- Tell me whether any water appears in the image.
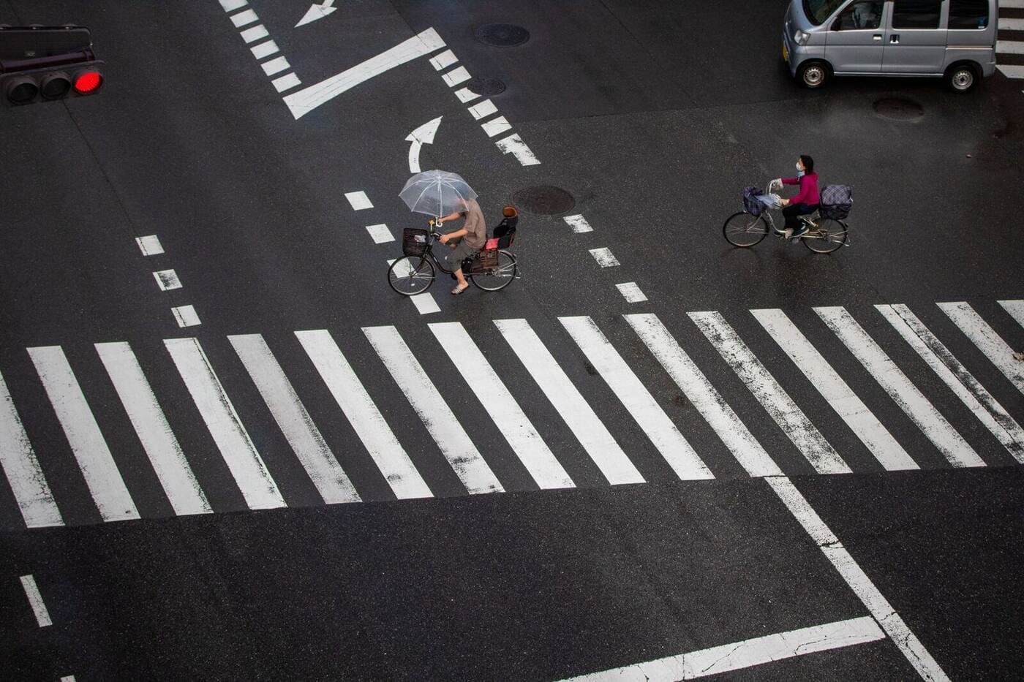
No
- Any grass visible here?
No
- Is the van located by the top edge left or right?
right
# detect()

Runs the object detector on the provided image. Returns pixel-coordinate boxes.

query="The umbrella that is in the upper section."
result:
[402,169,481,225]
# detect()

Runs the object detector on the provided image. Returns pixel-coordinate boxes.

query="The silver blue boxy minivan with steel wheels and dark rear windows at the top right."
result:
[780,0,998,95]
